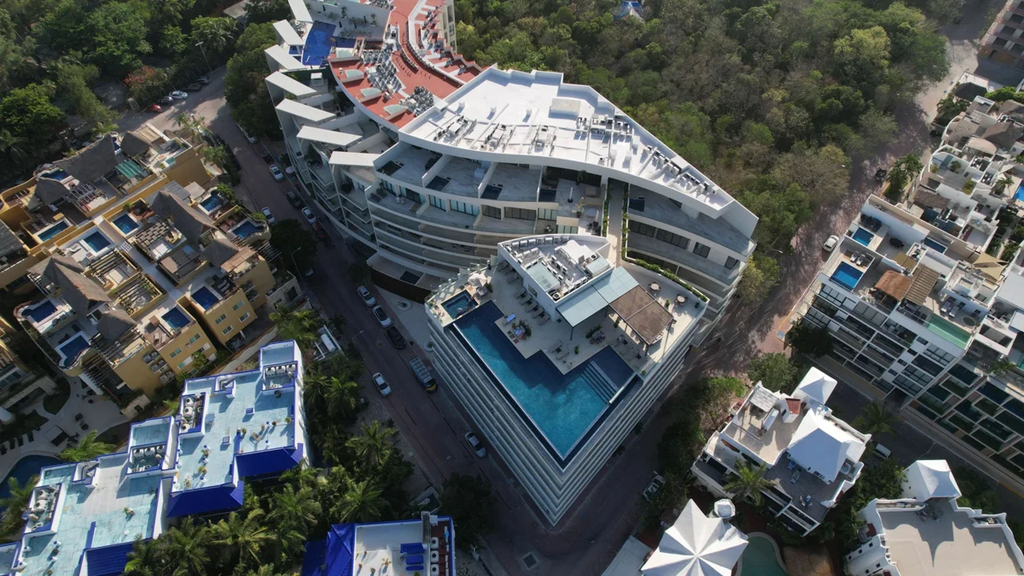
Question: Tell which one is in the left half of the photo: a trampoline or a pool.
pool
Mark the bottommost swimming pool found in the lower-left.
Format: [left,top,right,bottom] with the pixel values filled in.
[0,448,68,525]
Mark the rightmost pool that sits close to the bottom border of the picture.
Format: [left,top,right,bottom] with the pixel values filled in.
[733,526,789,576]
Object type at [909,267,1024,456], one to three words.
building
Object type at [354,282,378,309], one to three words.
car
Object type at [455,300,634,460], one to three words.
swimming pool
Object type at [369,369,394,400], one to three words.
car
